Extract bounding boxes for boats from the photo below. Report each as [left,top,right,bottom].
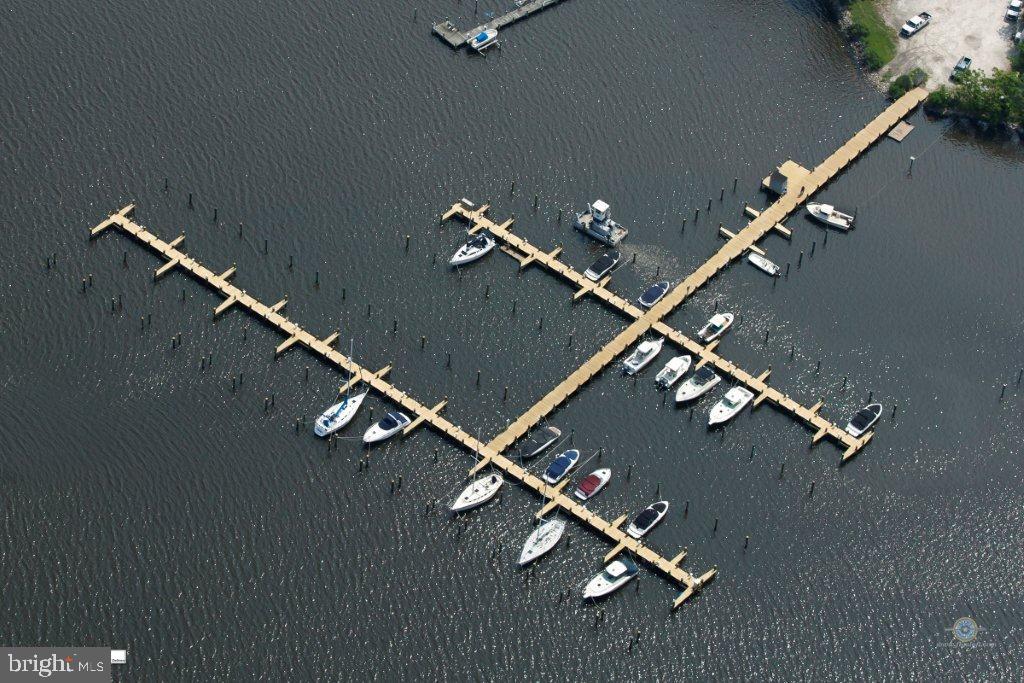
[579,555,641,601]
[638,282,670,310]
[573,203,630,248]
[542,450,581,488]
[518,480,566,566]
[625,502,670,542]
[517,0,532,7]
[623,335,667,376]
[706,366,756,427]
[517,428,562,460]
[805,202,857,232]
[573,469,612,505]
[696,312,734,345]
[746,254,780,276]
[656,354,693,391]
[452,430,505,513]
[675,365,723,405]
[450,214,496,267]
[316,343,371,436]
[584,254,622,284]
[844,405,883,441]
[468,30,499,53]
[363,411,412,445]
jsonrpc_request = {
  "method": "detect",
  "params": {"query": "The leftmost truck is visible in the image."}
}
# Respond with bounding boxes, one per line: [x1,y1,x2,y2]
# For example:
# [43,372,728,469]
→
[897,10,934,40]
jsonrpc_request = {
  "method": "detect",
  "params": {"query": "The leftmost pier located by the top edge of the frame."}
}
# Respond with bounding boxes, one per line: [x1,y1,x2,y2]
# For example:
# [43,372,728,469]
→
[429,0,562,56]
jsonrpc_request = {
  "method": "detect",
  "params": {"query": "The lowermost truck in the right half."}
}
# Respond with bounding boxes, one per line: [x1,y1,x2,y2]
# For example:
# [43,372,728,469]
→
[946,54,975,82]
